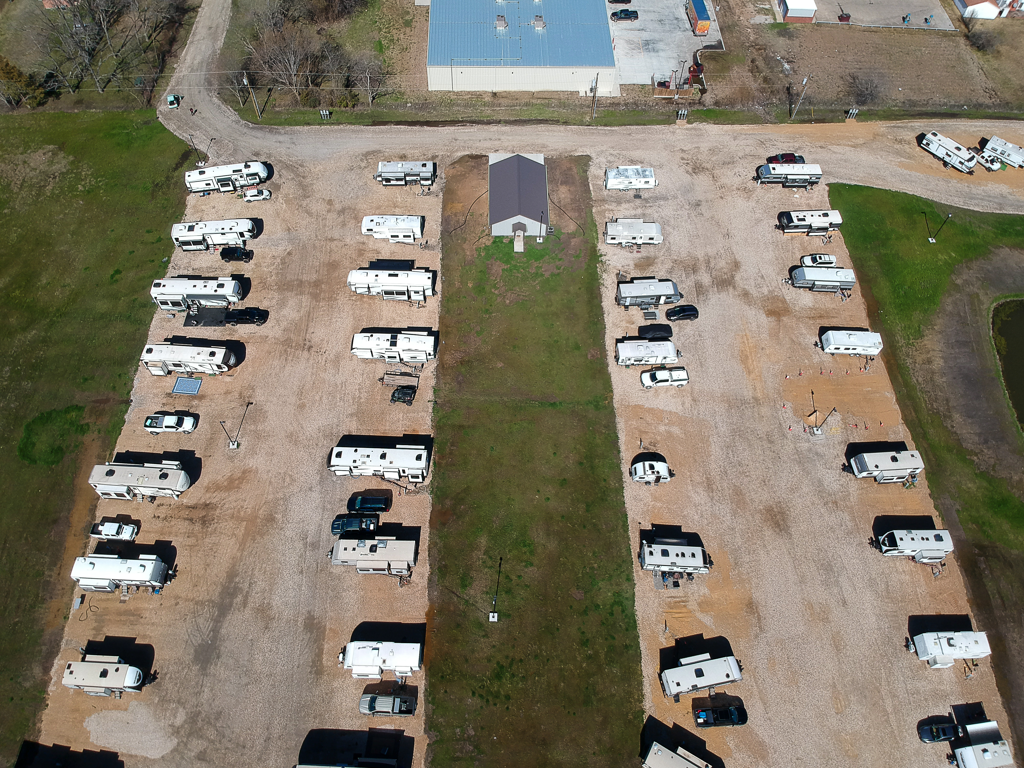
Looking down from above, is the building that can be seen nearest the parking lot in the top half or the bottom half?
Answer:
top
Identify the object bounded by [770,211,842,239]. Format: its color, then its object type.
white vehicle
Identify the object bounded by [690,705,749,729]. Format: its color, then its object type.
black truck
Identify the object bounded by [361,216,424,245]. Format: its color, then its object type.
white camper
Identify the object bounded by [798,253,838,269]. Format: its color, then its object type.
white car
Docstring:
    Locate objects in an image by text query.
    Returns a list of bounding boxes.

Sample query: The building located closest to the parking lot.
[425,0,617,91]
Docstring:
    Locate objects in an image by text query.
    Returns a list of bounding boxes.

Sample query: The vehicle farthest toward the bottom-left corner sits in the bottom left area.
[62,651,164,701]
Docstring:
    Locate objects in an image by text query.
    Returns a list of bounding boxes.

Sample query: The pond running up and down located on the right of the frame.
[992,296,1024,434]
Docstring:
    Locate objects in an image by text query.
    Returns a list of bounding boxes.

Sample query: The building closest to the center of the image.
[487,156,550,240]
